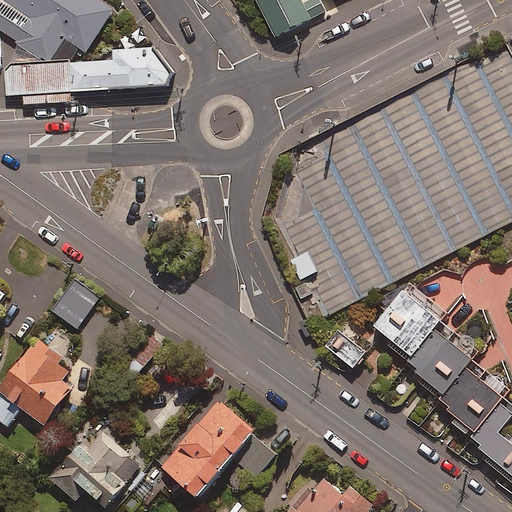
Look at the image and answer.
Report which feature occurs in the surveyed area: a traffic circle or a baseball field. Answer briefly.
traffic circle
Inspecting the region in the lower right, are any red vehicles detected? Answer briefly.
Yes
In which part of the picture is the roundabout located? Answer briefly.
top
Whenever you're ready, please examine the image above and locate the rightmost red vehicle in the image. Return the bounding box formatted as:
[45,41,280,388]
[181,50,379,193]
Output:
[440,459,462,478]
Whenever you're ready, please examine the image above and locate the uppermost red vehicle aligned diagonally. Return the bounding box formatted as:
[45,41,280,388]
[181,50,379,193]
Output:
[62,243,84,262]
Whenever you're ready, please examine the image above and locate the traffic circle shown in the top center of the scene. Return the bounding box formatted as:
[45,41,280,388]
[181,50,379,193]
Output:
[200,94,254,149]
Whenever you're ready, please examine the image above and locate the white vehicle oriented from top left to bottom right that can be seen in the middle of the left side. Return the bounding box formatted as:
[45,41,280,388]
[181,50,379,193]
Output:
[38,226,59,246]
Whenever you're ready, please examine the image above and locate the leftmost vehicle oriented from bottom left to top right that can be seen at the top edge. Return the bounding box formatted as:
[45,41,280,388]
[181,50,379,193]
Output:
[318,22,344,43]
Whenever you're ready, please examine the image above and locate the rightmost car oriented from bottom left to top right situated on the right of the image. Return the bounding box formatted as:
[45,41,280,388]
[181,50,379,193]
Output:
[452,304,473,326]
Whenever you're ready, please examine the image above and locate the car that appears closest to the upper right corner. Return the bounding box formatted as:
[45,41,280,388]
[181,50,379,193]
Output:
[414,58,435,73]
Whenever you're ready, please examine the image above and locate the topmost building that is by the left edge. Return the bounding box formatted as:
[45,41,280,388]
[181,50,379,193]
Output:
[0,0,112,64]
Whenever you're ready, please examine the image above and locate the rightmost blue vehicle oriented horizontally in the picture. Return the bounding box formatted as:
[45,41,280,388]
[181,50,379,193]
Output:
[420,282,440,294]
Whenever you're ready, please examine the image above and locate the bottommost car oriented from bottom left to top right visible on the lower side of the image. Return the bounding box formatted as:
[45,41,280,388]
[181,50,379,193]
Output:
[271,428,290,450]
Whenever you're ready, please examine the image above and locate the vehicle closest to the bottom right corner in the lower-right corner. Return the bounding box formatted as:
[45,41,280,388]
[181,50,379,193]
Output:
[467,478,486,496]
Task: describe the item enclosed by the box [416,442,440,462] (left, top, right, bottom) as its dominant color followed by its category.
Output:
white car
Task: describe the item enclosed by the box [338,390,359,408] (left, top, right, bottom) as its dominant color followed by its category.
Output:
white car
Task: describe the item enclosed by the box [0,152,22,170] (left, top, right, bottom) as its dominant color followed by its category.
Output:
blue car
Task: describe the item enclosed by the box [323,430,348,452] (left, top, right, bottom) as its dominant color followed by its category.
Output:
white vehicle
